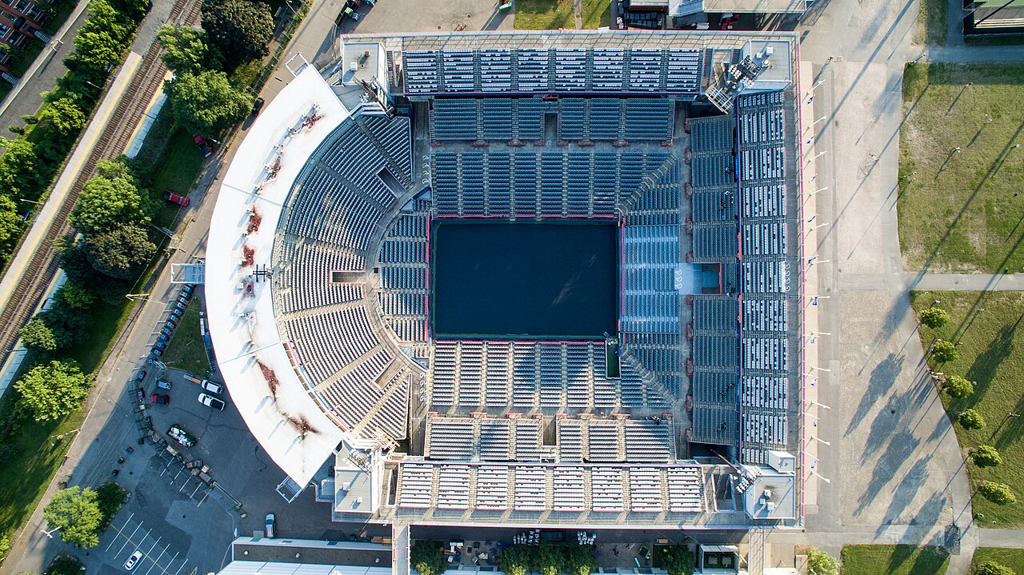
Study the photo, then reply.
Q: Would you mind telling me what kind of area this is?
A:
sports ground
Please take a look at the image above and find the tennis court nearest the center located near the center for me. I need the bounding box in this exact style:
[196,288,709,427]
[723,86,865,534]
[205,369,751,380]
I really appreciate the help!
[429,218,621,340]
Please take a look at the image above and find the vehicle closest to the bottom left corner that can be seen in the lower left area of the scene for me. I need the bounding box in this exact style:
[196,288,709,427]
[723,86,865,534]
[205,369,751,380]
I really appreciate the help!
[123,549,144,572]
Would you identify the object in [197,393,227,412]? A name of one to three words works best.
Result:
vehicle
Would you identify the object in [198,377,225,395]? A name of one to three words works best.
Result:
vehicle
